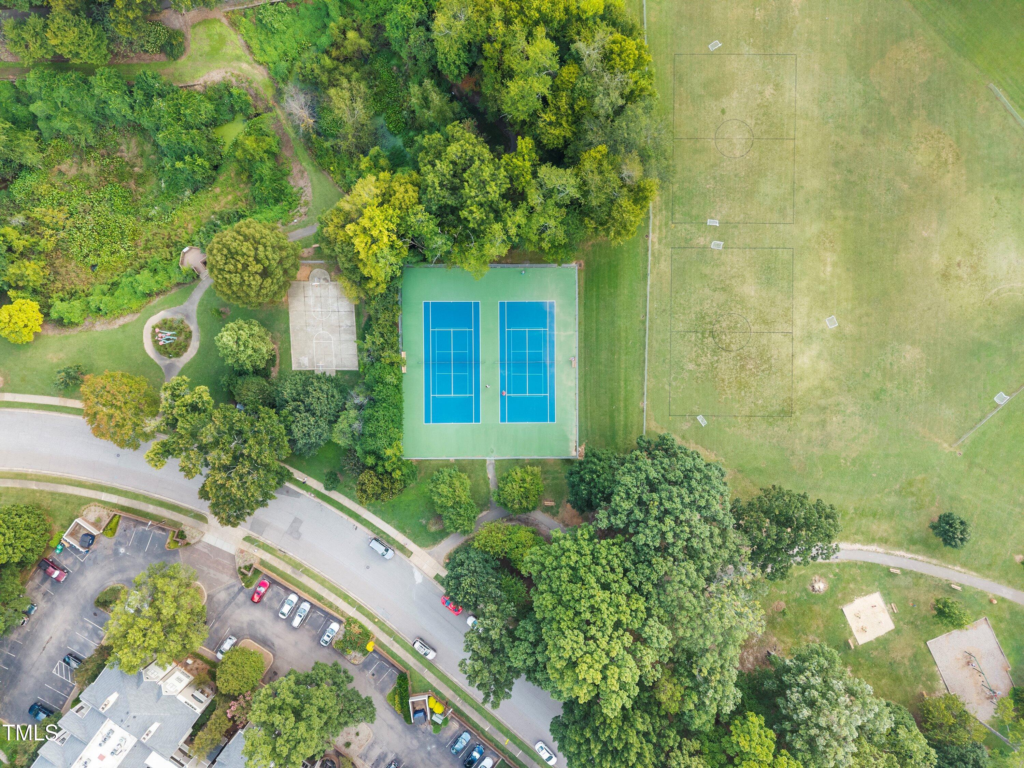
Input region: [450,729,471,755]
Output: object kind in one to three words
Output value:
car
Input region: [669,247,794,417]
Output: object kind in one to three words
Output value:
soccer field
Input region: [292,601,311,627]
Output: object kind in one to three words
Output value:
car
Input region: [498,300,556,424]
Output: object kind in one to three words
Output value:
tennis court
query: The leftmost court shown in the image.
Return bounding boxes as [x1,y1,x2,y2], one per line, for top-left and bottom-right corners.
[288,268,358,379]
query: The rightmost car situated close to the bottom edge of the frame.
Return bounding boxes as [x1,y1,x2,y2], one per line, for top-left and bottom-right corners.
[535,740,555,764]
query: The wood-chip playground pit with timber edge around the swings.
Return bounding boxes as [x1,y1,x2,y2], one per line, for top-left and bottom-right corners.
[927,617,1016,722]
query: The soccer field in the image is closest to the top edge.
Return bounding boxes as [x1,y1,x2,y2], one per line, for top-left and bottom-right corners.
[672,54,797,224]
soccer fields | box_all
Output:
[672,54,797,224]
[669,247,794,417]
